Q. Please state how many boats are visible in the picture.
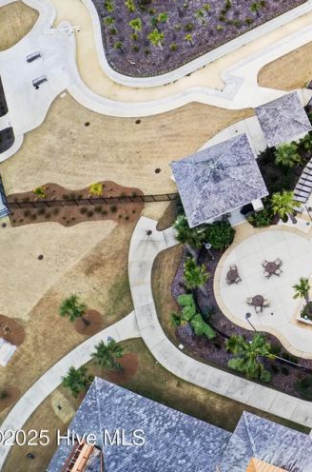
0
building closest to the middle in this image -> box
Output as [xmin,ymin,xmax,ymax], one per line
[169,133,269,231]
